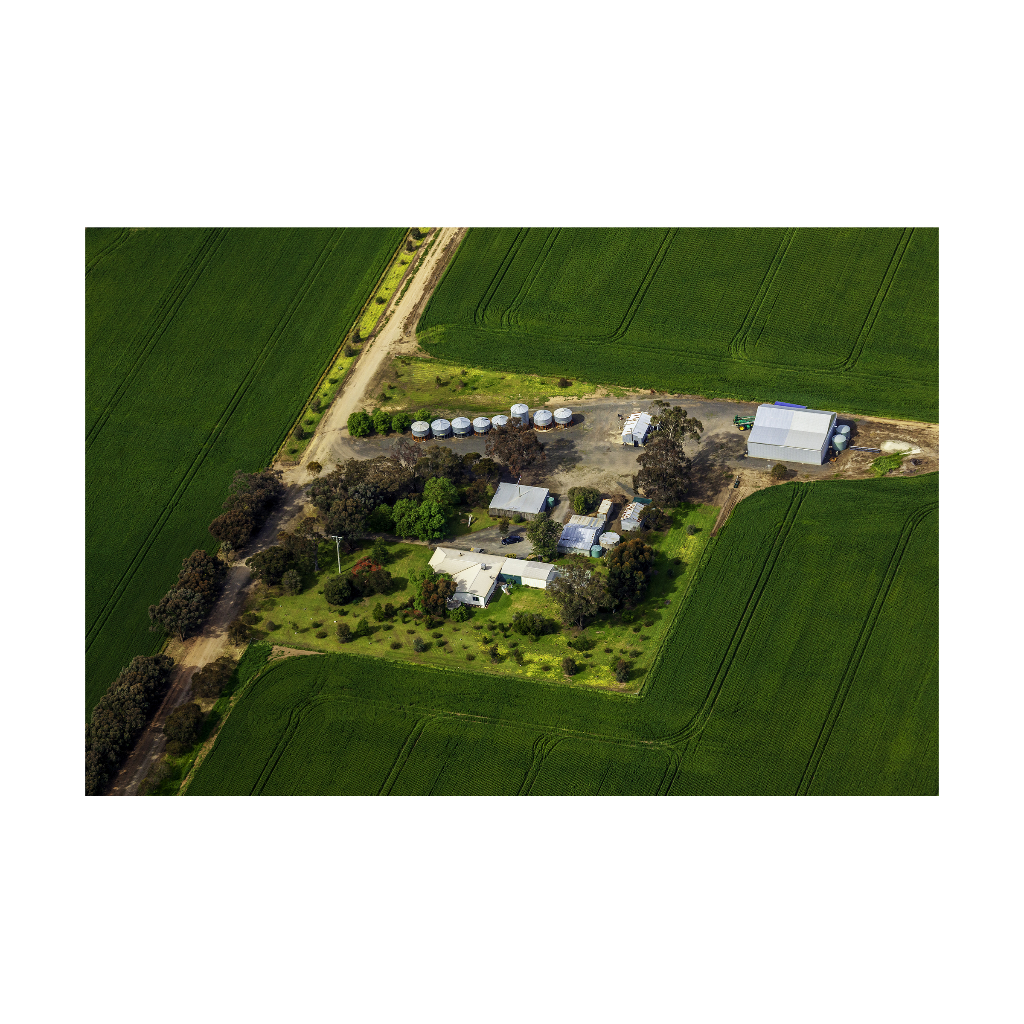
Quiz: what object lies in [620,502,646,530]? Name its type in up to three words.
shed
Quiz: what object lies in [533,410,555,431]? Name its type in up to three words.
silo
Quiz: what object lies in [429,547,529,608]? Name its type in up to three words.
house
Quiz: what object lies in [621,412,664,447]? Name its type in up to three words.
building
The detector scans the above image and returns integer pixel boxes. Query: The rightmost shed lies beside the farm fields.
[747,404,838,465]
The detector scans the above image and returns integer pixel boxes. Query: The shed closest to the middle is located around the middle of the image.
[488,482,550,522]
